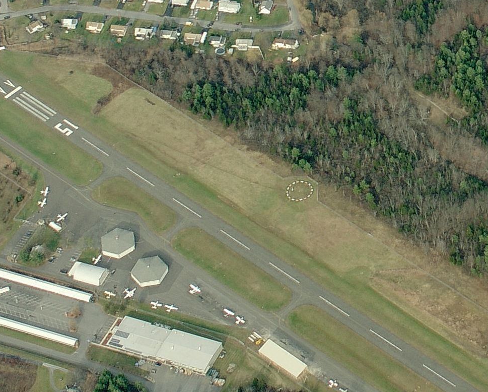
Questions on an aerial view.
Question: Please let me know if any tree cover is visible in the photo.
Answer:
Yes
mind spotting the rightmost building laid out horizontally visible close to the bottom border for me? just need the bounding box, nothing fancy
[104,317,222,373]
